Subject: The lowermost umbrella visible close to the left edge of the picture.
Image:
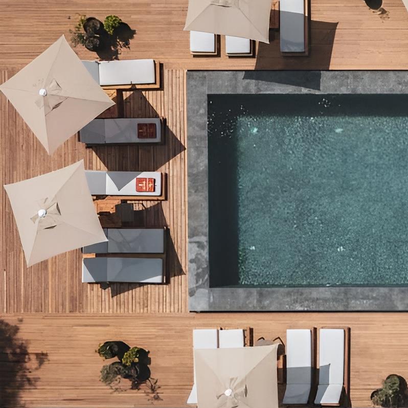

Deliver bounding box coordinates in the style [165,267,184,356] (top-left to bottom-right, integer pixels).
[2,160,109,268]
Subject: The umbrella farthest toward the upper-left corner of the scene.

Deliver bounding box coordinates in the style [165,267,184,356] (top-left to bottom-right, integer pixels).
[0,33,117,155]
